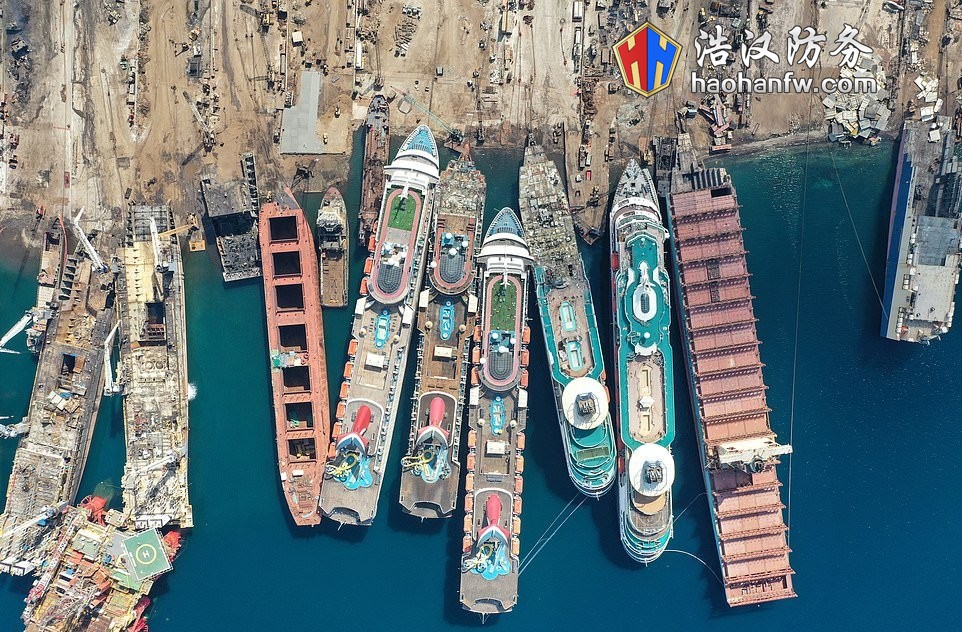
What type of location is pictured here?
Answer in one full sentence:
The area seen from above is a port.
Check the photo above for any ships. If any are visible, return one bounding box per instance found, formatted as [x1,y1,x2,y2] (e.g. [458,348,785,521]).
[318,186,350,306]
[113,204,194,528]
[459,206,533,613]
[665,136,797,610]
[26,213,71,351]
[610,160,675,567]
[882,119,962,344]
[0,254,119,575]
[201,153,264,282]
[320,125,444,527]
[260,187,330,526]
[357,94,390,243]
[517,146,616,499]
[400,164,491,521]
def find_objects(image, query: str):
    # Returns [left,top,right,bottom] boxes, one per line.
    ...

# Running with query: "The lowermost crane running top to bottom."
[103,317,123,394]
